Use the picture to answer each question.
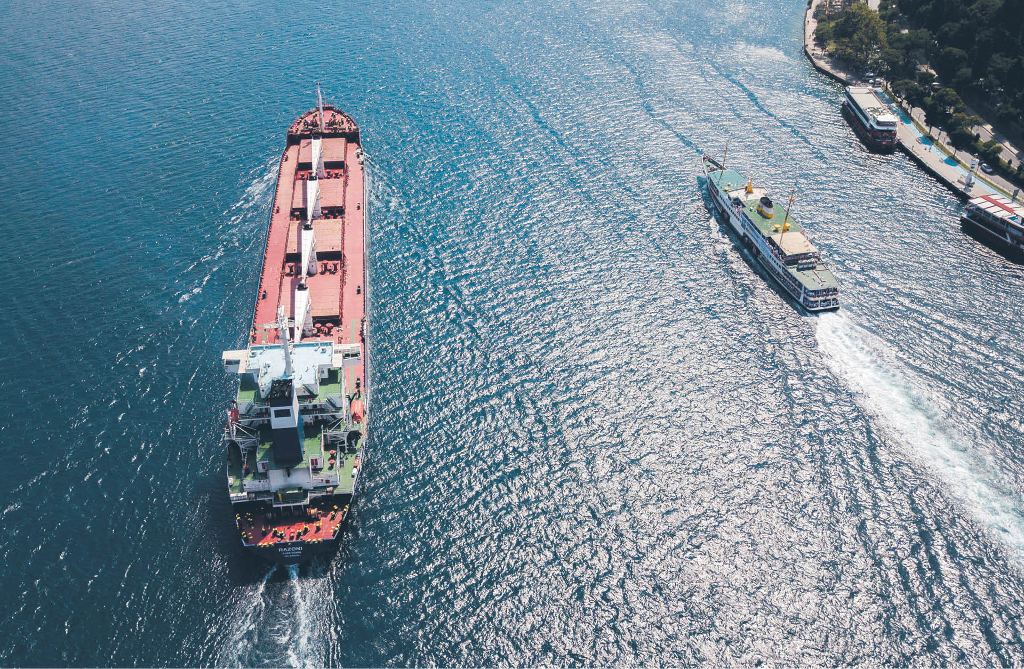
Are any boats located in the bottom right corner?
No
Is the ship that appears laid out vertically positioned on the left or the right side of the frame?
left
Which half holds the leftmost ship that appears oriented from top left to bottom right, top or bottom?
top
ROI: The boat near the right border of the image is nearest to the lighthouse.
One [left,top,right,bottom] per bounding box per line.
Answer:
[963,195,1024,259]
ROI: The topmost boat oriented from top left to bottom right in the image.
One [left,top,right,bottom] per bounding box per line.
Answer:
[845,86,898,149]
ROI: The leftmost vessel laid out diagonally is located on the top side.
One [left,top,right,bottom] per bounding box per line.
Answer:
[704,146,840,312]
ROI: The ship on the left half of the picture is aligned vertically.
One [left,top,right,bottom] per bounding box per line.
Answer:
[219,83,370,567]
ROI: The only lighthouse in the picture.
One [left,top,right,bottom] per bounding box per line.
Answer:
[961,159,981,191]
